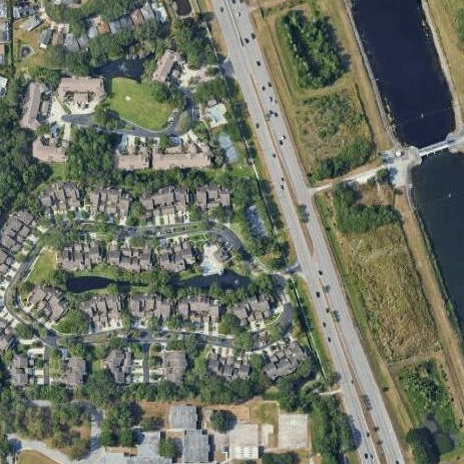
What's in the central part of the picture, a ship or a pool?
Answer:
pool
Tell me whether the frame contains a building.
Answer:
Yes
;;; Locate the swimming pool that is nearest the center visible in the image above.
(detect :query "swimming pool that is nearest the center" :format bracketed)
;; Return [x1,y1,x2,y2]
[200,248,223,274]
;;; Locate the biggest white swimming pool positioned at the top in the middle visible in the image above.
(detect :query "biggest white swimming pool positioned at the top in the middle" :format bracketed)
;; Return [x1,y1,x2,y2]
[202,102,231,128]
